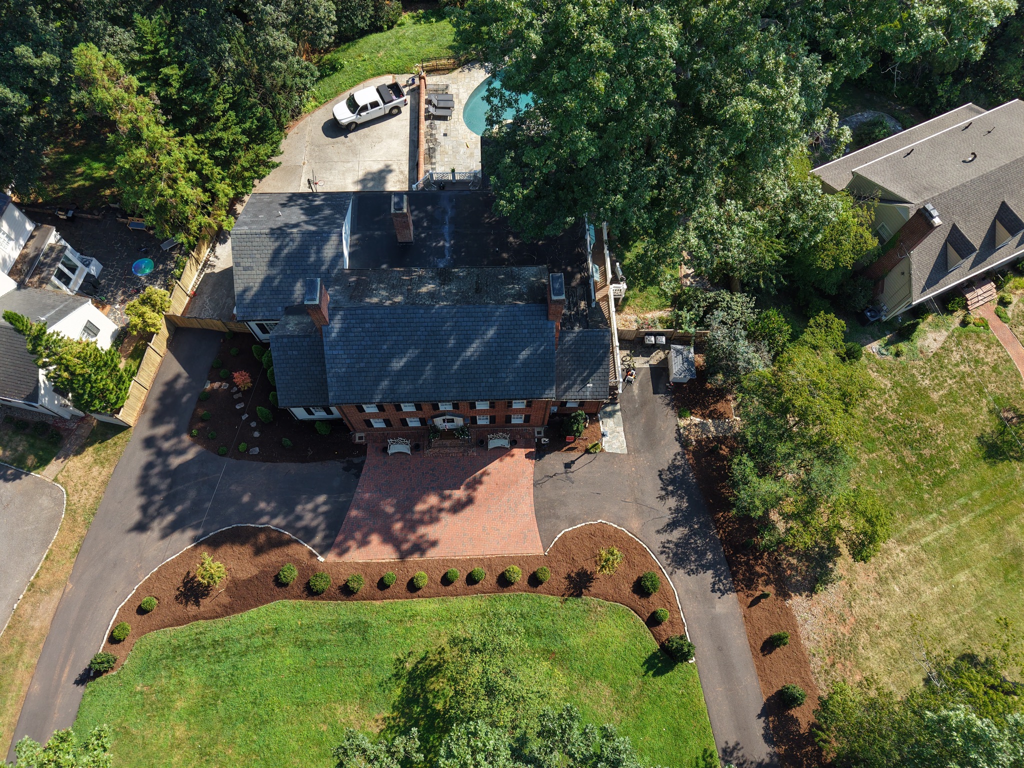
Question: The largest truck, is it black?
No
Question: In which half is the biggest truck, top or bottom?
top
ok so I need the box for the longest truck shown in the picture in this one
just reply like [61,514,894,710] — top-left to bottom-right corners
[328,83,410,131]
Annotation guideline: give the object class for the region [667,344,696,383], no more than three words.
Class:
shed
